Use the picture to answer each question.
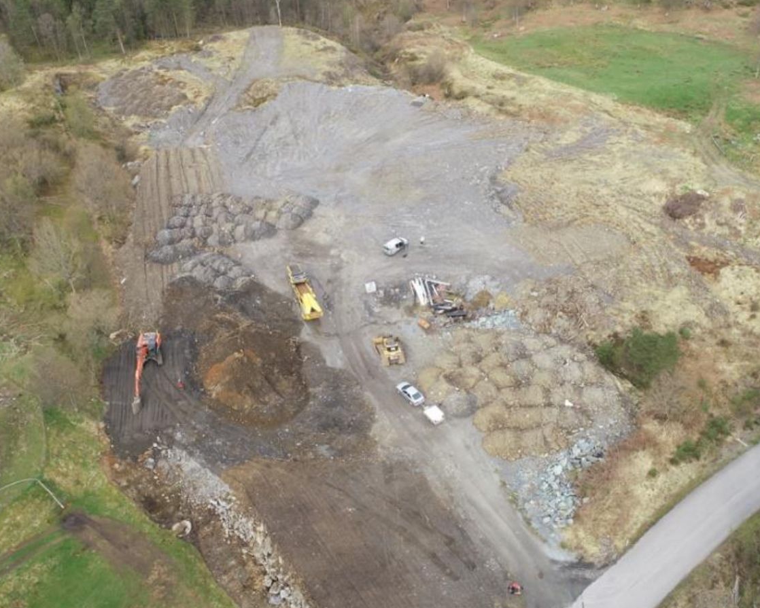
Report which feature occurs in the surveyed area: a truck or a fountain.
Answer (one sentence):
Looking from above, you can make out a truck.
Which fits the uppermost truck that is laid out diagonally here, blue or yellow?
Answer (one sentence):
The color of the uppermost truck that is laid out diagonally is yellow.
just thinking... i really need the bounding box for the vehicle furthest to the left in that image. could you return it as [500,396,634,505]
[135,331,162,416]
